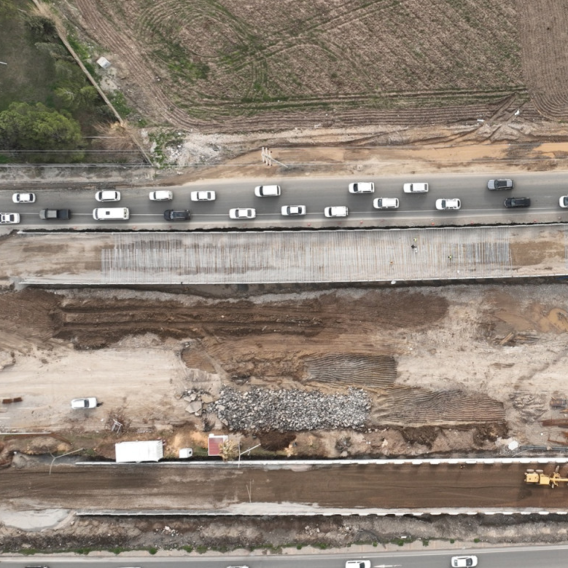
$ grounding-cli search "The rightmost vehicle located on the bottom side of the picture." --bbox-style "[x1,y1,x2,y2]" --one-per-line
[525,467,568,489]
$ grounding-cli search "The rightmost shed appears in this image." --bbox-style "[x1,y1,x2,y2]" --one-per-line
[208,434,231,455]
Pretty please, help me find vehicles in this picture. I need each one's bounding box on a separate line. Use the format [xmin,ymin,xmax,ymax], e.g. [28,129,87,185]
[559,196,568,207]
[14,191,38,203]
[504,196,530,208]
[93,206,130,220]
[451,554,478,568]
[255,184,281,197]
[97,190,123,201]
[281,205,306,216]
[230,207,257,220]
[403,181,428,192]
[525,467,568,489]
[69,397,105,410]
[0,212,22,223]
[374,198,400,209]
[487,178,513,190]
[150,189,174,201]
[324,206,348,217]
[349,181,374,194]
[164,207,191,220]
[41,207,73,220]
[436,197,461,209]
[191,189,217,201]
[345,559,371,568]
